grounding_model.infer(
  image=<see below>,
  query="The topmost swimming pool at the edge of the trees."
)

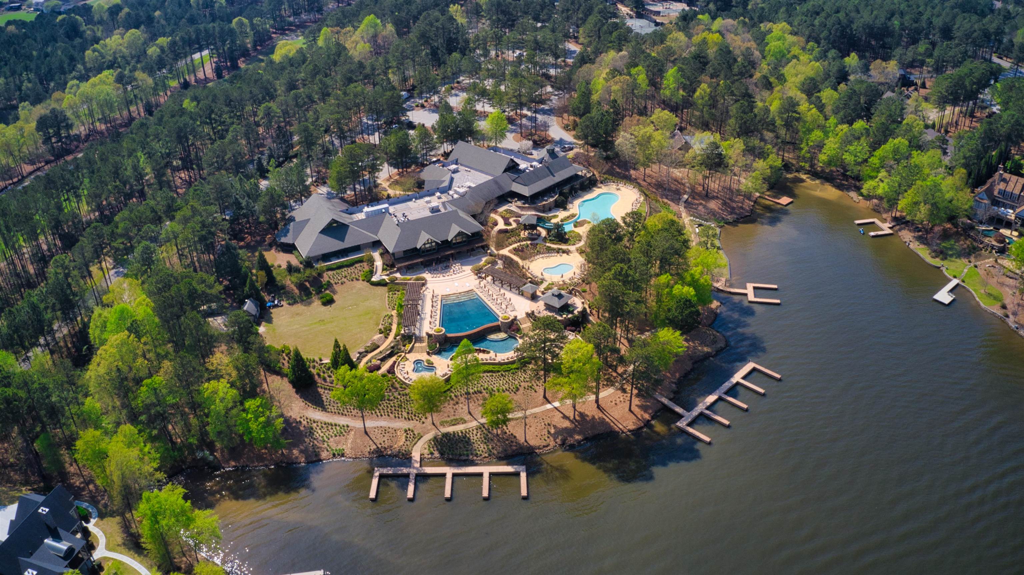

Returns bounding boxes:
[566,192,619,231]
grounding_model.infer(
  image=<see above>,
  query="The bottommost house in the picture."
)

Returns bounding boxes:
[0,482,89,575]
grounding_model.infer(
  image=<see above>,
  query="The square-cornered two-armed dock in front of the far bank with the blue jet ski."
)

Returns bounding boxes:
[854,219,902,237]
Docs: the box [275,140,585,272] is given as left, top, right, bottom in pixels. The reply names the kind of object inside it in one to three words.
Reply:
building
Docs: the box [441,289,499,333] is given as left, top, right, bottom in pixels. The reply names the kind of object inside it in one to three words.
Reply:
swimming pool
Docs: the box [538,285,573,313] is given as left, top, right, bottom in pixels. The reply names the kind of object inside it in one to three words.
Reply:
building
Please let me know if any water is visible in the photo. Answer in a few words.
Yes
